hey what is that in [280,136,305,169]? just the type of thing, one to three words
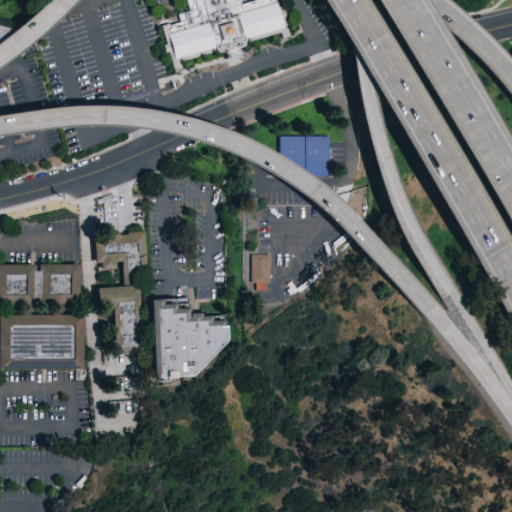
shed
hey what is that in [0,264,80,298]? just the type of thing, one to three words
building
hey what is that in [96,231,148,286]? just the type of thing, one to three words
building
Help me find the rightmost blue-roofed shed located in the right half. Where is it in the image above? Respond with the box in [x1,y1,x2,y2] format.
[306,136,330,176]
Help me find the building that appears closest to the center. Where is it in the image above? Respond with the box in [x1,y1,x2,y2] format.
[250,253,273,292]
